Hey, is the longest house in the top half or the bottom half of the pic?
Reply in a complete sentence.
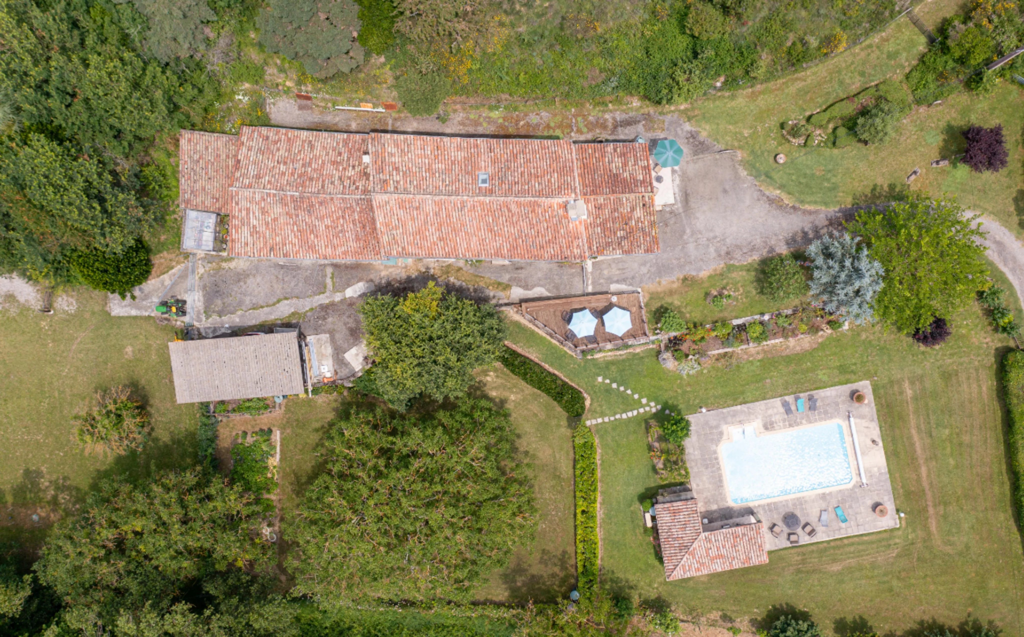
The longest house sits in the top half of the picture.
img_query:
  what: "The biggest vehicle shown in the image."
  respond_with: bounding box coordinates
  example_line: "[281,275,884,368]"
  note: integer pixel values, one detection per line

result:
[154,299,187,319]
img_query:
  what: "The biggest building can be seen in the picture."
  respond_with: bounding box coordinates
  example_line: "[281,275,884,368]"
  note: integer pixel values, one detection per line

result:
[179,124,661,266]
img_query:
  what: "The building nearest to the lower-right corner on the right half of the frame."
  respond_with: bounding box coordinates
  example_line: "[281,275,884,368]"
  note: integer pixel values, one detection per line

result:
[653,494,769,582]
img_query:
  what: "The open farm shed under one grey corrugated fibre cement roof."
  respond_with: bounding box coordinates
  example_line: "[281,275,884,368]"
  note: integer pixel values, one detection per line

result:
[168,332,309,404]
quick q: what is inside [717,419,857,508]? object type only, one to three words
swimming pool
